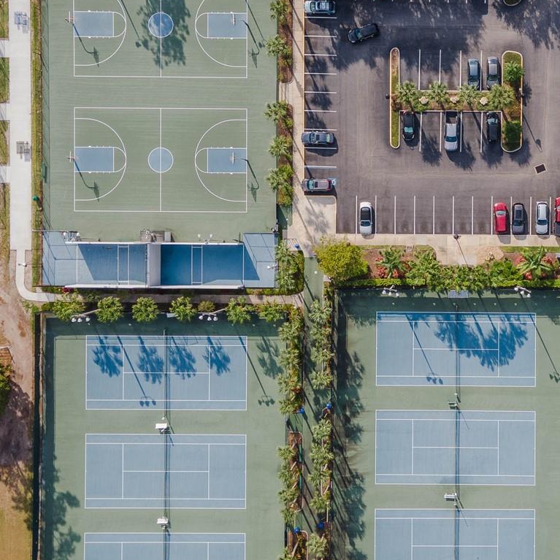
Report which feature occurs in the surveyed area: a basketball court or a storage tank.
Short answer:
basketball court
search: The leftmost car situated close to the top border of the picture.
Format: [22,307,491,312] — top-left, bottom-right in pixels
[303,0,336,16]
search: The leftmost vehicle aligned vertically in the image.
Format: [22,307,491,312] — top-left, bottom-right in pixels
[358,202,373,235]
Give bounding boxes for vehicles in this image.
[554,197,560,237]
[511,203,526,235]
[535,202,550,235]
[494,203,509,234]
[466,58,481,91]
[358,202,373,235]
[302,178,334,193]
[486,112,501,144]
[444,112,458,153]
[302,131,334,146]
[486,57,500,90]
[401,112,416,143]
[303,0,336,16]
